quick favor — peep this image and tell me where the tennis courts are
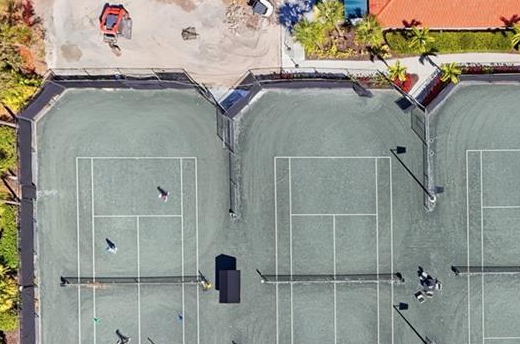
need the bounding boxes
[427,82,520,344]
[34,87,236,344]
[231,88,430,344]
